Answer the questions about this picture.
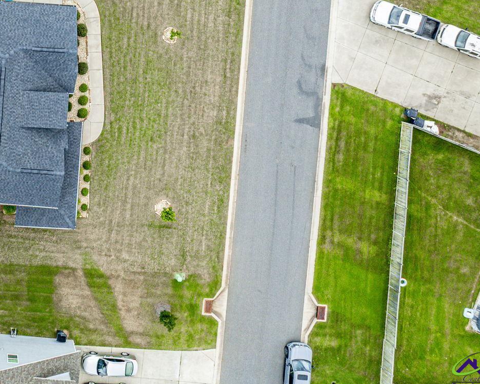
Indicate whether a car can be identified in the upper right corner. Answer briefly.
Yes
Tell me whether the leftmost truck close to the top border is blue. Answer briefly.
No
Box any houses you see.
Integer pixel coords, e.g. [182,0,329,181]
[0,0,84,231]
[0,335,81,384]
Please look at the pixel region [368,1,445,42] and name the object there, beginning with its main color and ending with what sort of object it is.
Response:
white truck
